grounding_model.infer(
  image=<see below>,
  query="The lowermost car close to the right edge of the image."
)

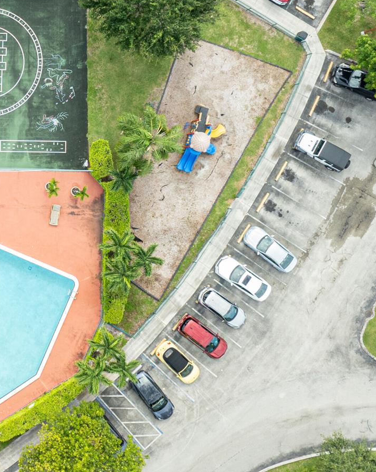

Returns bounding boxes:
[290,126,358,175]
